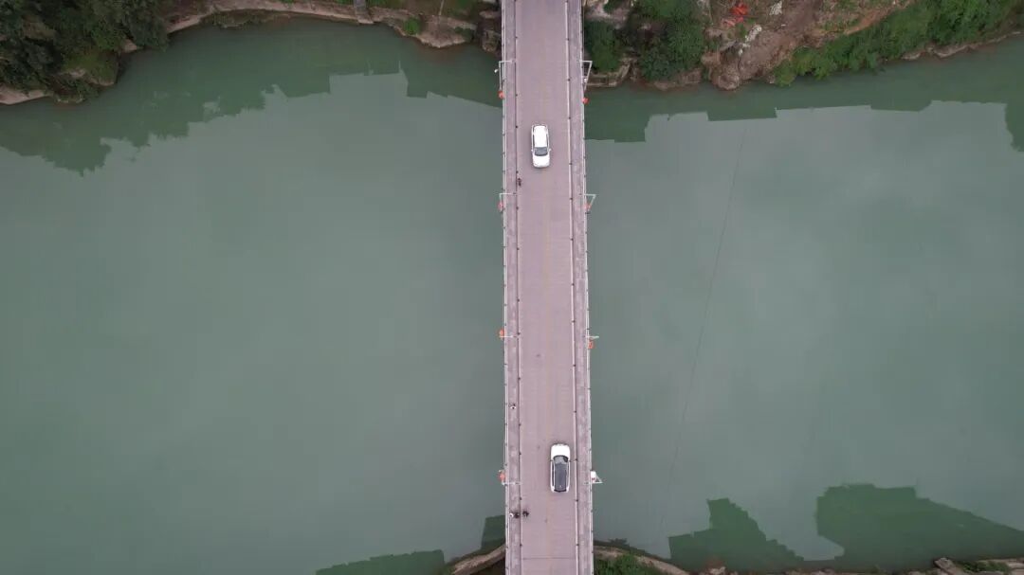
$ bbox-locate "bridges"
[500,0,595,575]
